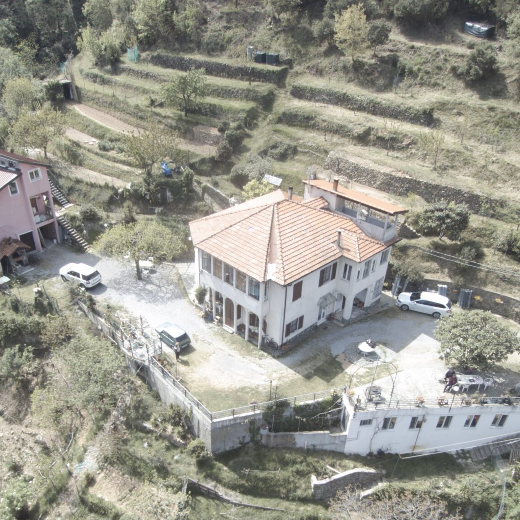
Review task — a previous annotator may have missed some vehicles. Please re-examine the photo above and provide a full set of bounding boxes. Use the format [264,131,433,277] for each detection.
[155,317,193,349]
[57,261,104,289]
[394,291,454,319]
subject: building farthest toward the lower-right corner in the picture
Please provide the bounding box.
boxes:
[340,390,520,453]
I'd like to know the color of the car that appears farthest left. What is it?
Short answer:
white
